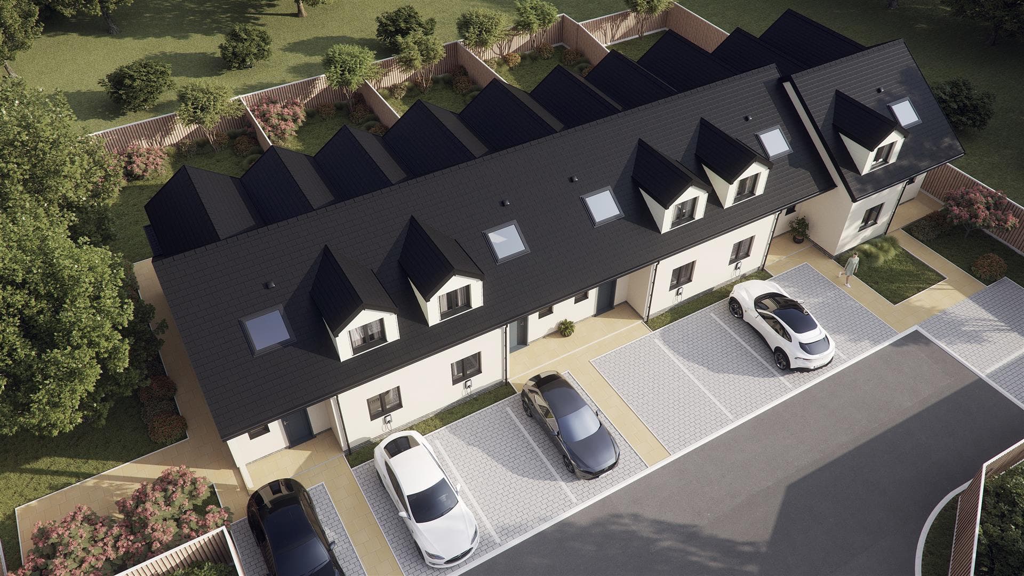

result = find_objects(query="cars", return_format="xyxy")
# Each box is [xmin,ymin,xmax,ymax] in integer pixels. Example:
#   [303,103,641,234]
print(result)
[730,280,834,367]
[251,483,346,576]
[372,429,478,568]
[521,369,622,480]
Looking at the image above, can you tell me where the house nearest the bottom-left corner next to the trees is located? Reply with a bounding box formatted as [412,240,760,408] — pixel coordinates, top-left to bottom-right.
[141,145,430,495]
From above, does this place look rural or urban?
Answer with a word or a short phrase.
urban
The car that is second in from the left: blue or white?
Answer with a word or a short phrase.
white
